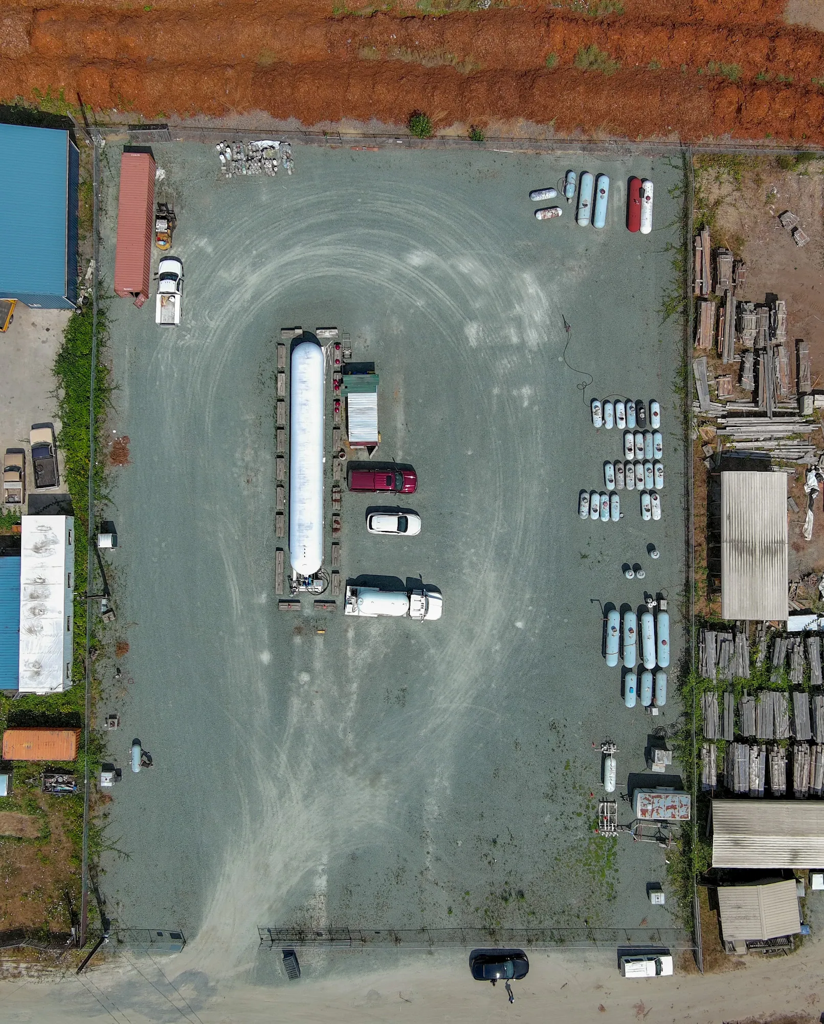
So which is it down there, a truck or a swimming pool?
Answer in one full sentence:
It is a truck that can be seen here.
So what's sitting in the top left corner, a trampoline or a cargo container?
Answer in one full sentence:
Visible in the top left corner is a cargo container.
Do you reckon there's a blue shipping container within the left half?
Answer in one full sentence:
No, no blue shipping container can be made out within the left half.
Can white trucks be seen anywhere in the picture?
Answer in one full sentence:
Yes, a white truck appears in the view.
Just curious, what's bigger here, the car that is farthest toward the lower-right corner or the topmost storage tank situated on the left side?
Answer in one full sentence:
The car is smaller than the storage tank.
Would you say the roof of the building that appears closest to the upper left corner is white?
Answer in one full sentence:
No, the color of the roof of the building that appears closest to the upper left corner is blue.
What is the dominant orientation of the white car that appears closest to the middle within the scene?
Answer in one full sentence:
What the image shows is the white car that appears closest to the middle lying horizontally.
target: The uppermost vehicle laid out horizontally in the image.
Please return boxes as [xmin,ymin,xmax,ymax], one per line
[343,460,417,496]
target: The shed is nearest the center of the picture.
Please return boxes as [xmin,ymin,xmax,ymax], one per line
[341,374,378,451]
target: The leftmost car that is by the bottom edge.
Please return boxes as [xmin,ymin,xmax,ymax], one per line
[470,952,529,983]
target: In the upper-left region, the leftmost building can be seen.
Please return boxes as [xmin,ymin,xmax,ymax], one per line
[0,121,80,308]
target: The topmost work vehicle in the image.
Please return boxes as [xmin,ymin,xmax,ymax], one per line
[155,207,173,252]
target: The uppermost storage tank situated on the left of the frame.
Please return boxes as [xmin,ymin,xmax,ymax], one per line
[291,342,329,598]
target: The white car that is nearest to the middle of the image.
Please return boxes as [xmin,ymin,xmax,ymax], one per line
[367,510,422,538]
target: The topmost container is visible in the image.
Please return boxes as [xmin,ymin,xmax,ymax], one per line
[114,152,156,305]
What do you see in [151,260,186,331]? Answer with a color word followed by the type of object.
white truck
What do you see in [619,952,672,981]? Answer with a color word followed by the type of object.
white car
